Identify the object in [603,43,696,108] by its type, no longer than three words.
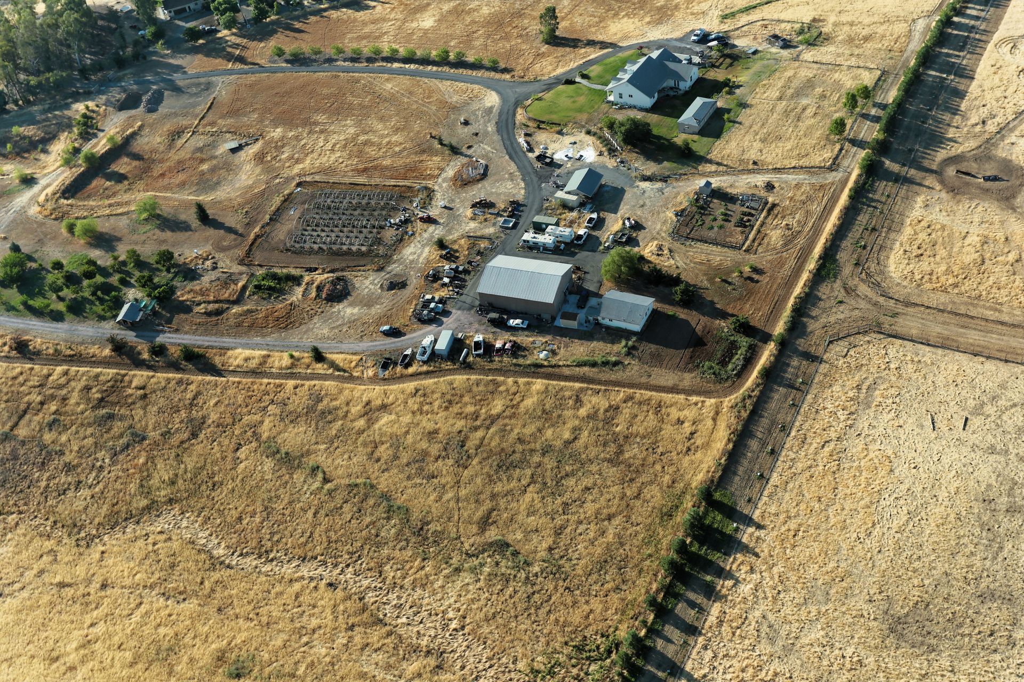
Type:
house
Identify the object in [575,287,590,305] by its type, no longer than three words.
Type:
car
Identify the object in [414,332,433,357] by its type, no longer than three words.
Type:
boat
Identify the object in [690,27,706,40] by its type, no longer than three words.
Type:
vehicle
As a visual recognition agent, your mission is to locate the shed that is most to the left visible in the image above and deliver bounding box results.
[115,301,146,332]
